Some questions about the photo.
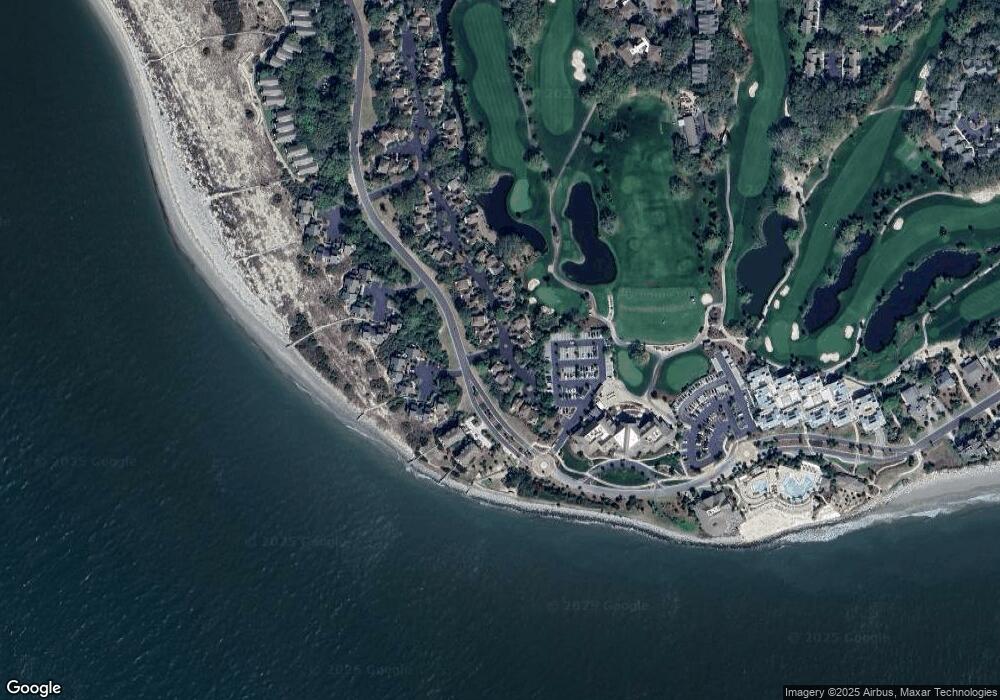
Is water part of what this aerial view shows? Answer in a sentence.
Yes, the picture does contain water.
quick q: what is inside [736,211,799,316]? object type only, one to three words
pond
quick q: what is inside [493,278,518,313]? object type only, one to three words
house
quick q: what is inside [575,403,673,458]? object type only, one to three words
building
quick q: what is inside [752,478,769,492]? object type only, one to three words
swimming pool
